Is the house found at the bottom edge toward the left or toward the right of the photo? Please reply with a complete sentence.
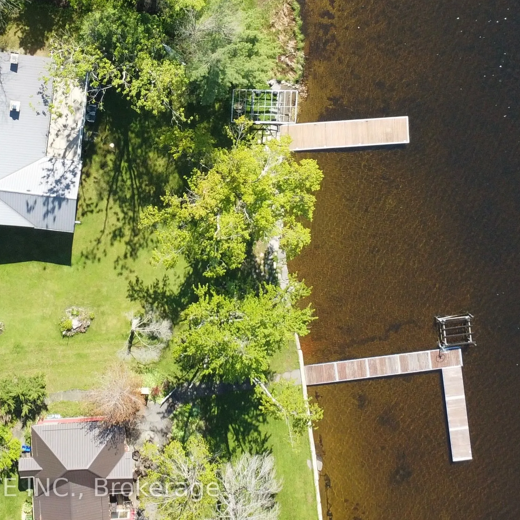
The house found at the bottom edge sits on the left side.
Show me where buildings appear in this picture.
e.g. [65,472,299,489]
[19,417,135,520]
[0,47,90,235]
